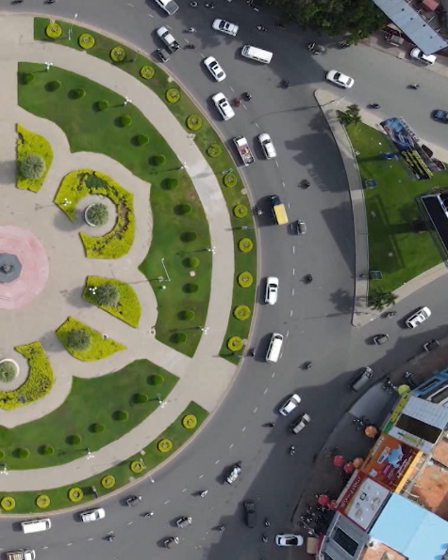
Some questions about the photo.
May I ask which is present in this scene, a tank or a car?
car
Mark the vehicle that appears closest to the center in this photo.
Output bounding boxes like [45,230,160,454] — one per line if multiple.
[265,277,279,304]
